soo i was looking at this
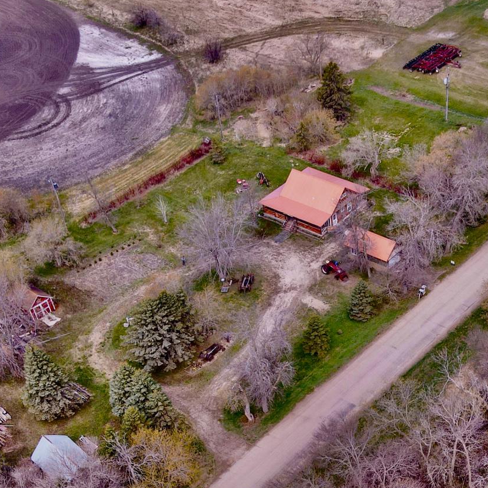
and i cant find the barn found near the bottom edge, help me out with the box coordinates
[30,434,102,488]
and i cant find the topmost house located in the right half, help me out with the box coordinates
[259,168,370,243]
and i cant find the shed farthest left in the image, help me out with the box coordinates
[13,283,55,320]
